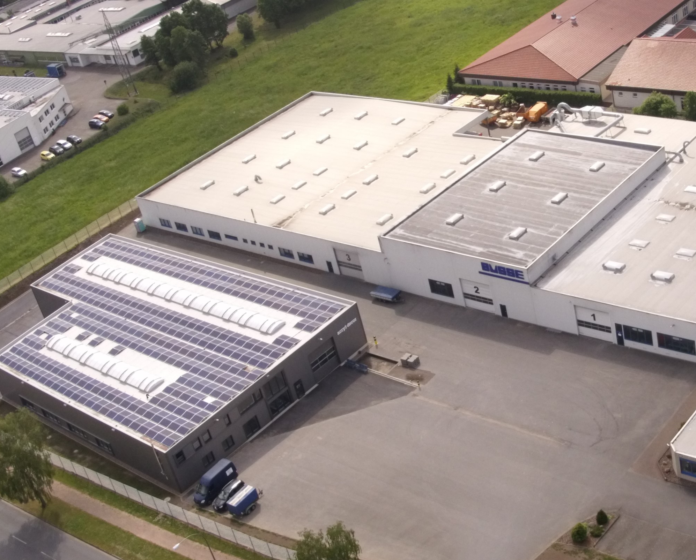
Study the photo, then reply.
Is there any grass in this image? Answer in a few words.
Yes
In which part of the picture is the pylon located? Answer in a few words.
top left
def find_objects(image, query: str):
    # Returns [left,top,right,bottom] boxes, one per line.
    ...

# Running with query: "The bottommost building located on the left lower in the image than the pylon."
[0,233,368,494]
